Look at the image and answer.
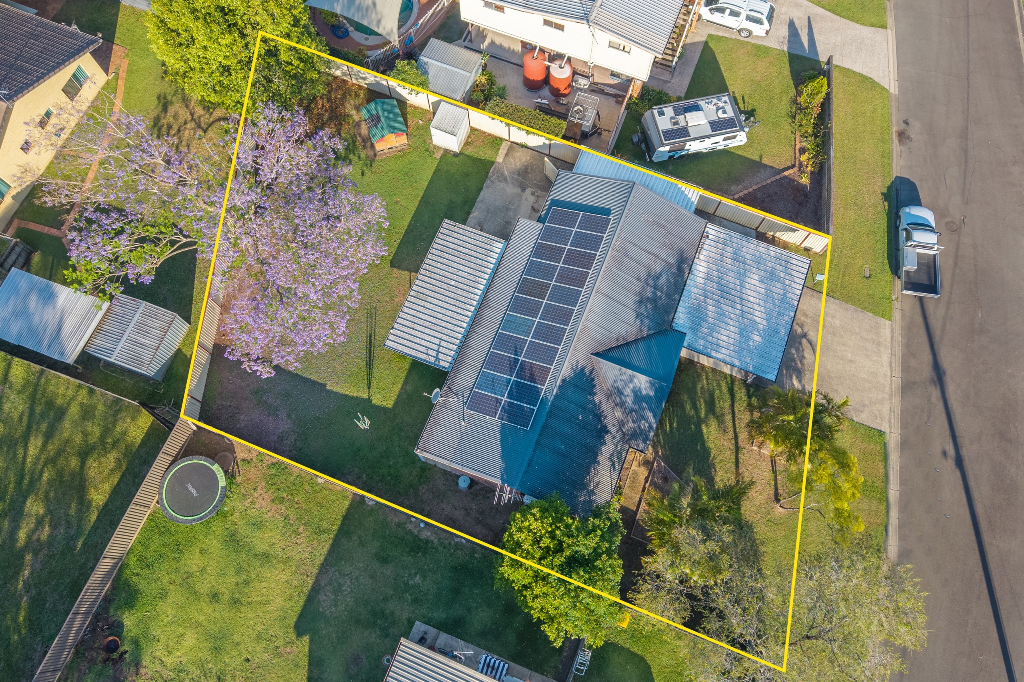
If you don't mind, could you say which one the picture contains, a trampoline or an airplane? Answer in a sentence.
It is a trampoline that can be seen here.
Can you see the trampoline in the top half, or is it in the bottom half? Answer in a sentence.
Seen from above, the trampoline lies in the bottom half of the view.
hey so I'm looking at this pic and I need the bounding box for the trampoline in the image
[158,456,229,524]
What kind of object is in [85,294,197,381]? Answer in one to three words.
shed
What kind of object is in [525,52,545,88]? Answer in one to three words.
water tank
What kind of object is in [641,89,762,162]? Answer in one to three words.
camper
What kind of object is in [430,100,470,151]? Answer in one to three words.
shed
